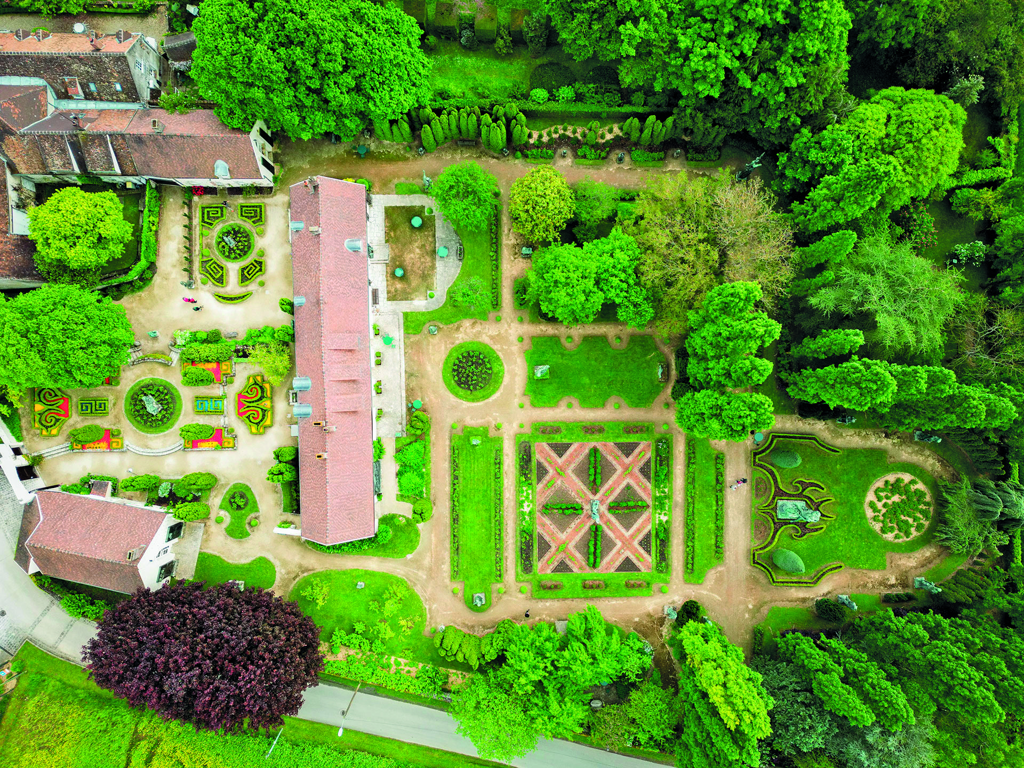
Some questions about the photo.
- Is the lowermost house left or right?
left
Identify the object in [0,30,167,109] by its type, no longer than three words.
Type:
house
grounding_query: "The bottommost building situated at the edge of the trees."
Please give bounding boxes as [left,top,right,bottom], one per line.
[14,493,179,594]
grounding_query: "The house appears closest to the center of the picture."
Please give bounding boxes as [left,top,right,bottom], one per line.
[289,175,378,546]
